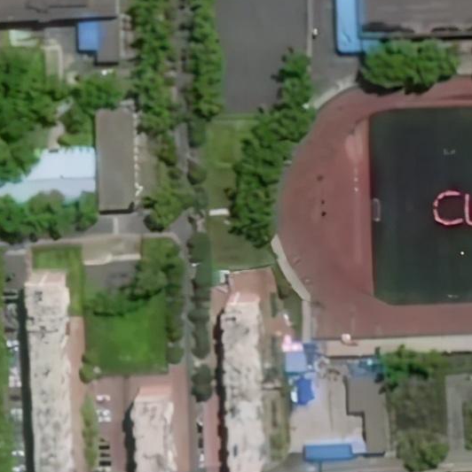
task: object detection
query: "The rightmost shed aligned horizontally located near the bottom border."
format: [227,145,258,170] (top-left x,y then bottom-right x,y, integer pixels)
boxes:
[304,442,353,460]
